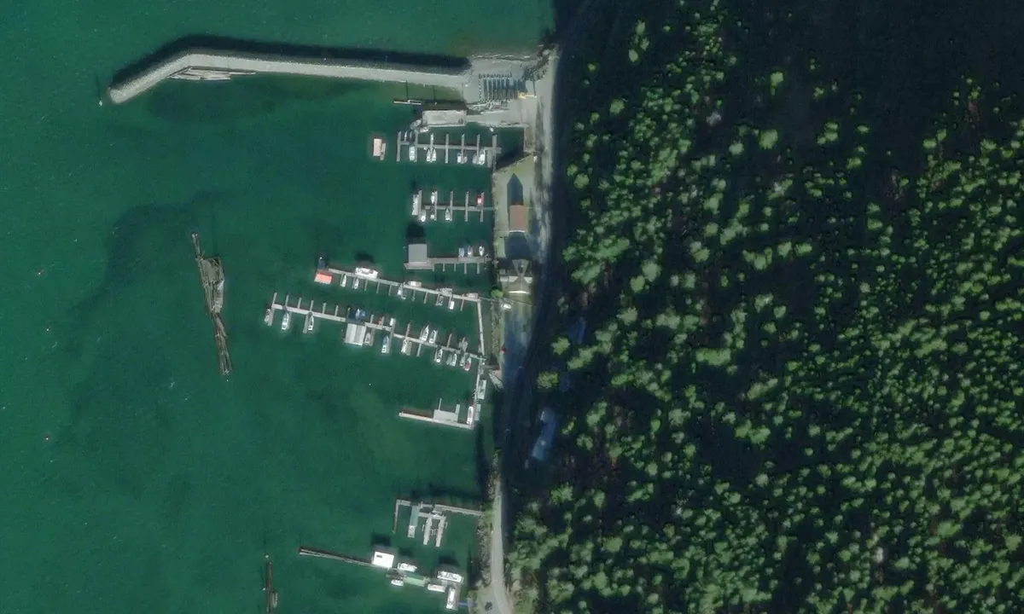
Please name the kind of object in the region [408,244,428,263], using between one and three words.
building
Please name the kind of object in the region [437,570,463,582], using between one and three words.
boat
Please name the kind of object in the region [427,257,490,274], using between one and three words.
pier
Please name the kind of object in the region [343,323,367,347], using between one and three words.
building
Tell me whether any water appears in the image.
Yes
